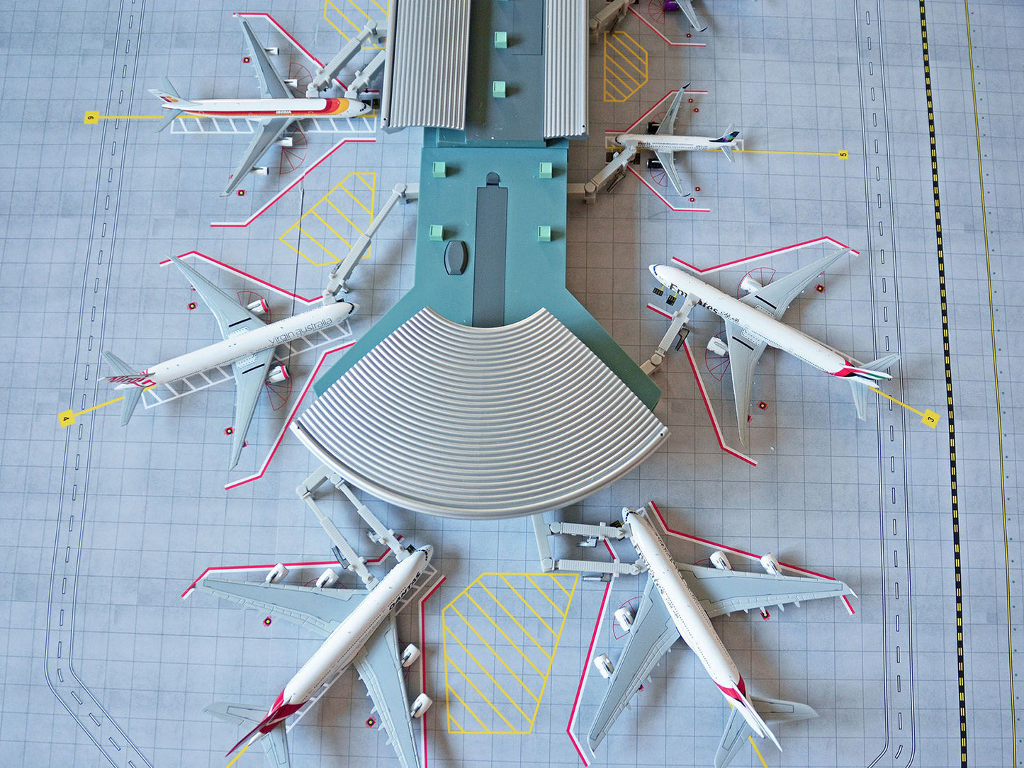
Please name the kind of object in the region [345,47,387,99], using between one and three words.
jet bridge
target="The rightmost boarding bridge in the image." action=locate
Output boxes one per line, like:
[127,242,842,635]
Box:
[639,295,698,376]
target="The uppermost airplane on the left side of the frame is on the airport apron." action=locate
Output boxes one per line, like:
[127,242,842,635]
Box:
[149,10,372,197]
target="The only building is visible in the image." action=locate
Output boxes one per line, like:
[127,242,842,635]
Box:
[290,0,672,522]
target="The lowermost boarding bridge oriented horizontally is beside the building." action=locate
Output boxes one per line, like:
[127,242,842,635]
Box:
[541,556,645,582]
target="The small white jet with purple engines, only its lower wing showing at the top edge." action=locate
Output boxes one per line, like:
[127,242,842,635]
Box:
[659,0,703,34]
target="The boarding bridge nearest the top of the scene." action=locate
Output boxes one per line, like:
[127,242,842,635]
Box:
[589,0,634,48]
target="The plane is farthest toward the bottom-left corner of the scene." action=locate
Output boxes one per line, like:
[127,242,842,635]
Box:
[181,546,433,768]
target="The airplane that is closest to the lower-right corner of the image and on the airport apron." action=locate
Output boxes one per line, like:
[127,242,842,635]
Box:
[588,510,860,768]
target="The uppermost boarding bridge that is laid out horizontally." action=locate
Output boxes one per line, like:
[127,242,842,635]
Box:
[549,520,625,547]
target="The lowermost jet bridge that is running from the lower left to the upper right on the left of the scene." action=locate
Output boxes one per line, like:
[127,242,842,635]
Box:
[323,183,420,306]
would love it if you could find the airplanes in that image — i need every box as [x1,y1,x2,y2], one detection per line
[588,510,860,768]
[648,247,900,446]
[149,10,372,197]
[181,546,433,768]
[659,0,703,34]
[615,84,739,197]
[100,256,359,468]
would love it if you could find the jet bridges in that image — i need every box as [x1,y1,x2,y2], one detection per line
[323,183,420,306]
[295,485,380,591]
[329,473,409,561]
[549,520,625,547]
[307,20,389,98]
[541,556,645,582]
[639,295,698,376]
[589,0,634,48]
[568,136,638,209]
[345,47,387,99]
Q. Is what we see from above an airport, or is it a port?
airport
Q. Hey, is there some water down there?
No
